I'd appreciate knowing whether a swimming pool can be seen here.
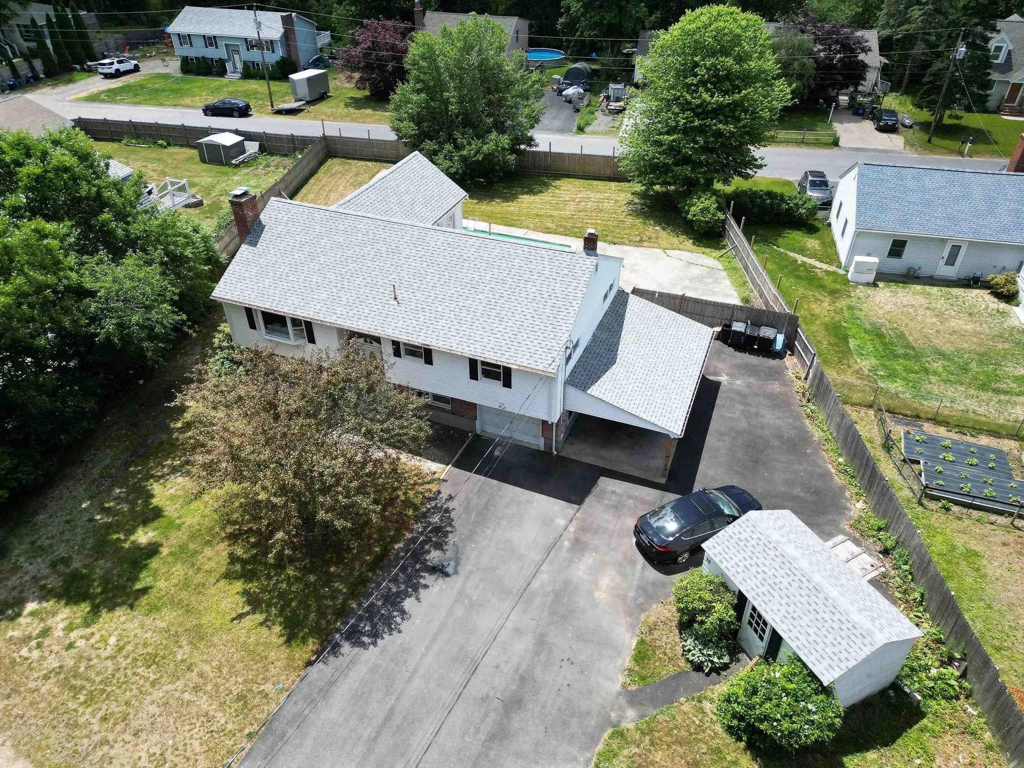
Yes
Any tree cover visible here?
Yes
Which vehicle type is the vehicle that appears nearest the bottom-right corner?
automobile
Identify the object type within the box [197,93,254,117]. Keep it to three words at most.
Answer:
car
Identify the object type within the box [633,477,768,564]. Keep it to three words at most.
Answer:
car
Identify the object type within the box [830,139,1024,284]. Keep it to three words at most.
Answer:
house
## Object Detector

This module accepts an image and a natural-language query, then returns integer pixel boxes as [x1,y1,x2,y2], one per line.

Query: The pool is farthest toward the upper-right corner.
[519,47,564,71]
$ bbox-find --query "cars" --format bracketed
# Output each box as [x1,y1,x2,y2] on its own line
[633,477,768,564]
[88,52,139,76]
[859,103,904,127]
[786,161,838,203]
[197,93,254,117]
